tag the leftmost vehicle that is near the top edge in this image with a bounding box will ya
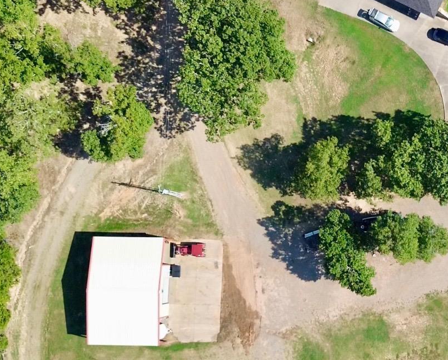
[365,5,402,33]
